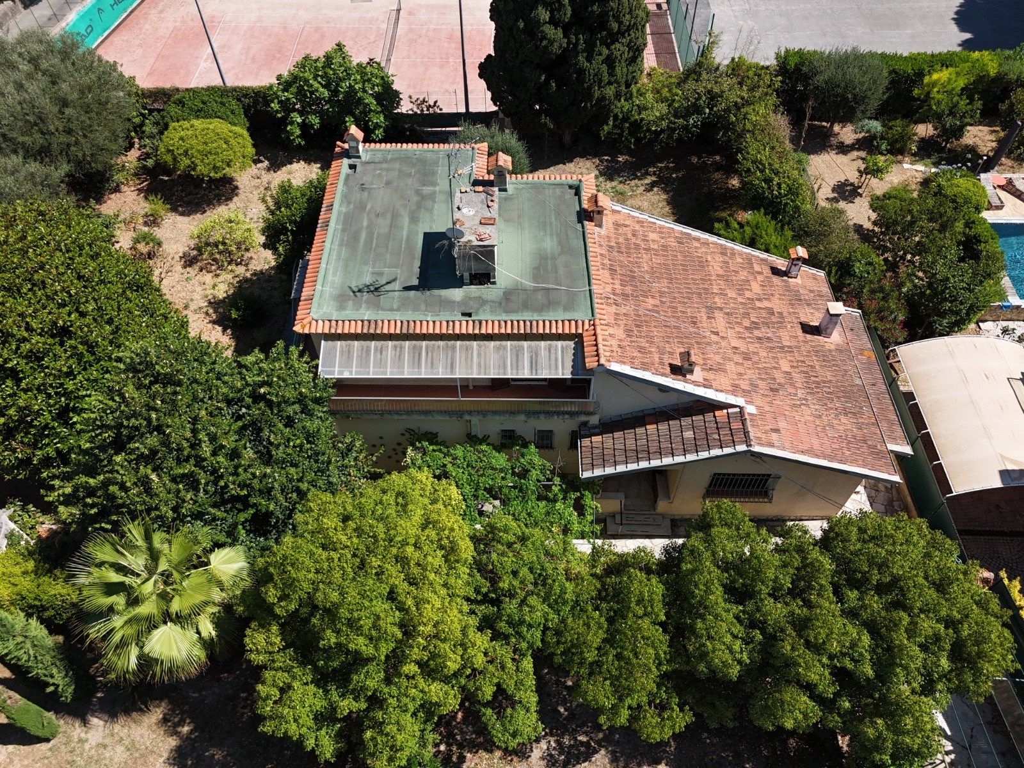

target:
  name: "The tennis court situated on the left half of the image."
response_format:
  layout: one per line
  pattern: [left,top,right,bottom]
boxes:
[56,0,677,125]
